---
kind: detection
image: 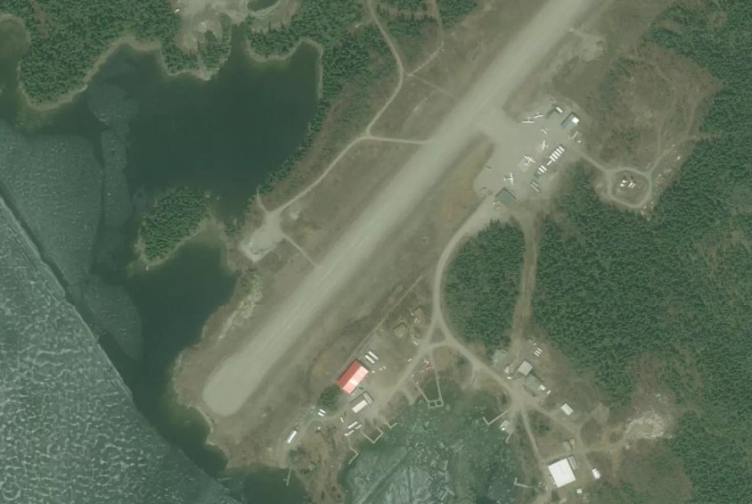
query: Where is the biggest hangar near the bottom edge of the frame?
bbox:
[548,458,576,488]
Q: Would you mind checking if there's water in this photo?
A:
Yes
